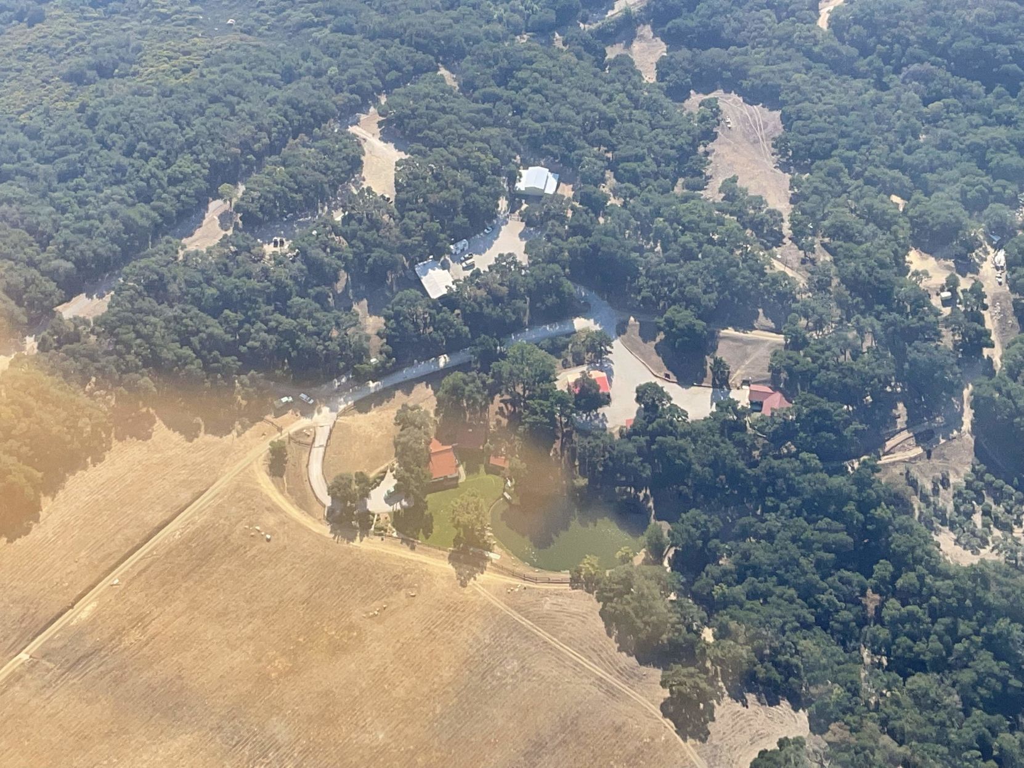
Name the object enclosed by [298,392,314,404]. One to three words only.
vehicle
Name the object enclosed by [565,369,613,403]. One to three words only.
house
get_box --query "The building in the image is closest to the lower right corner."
[744,385,796,420]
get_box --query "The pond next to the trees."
[490,486,650,572]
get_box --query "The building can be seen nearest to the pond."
[486,454,512,475]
